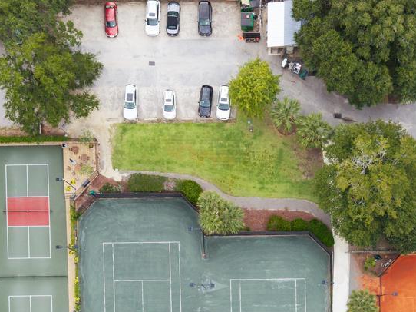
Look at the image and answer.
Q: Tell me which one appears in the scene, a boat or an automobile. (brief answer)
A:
automobile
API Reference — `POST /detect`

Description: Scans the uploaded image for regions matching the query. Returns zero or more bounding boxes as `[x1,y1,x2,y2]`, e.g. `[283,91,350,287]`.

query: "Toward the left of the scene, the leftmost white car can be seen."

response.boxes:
[122,85,139,120]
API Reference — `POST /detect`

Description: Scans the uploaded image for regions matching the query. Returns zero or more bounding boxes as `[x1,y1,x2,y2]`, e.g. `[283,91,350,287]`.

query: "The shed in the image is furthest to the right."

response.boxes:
[267,0,305,56]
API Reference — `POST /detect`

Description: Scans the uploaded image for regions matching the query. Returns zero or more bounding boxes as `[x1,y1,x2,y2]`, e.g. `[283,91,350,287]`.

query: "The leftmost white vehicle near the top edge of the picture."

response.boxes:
[145,1,162,36]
